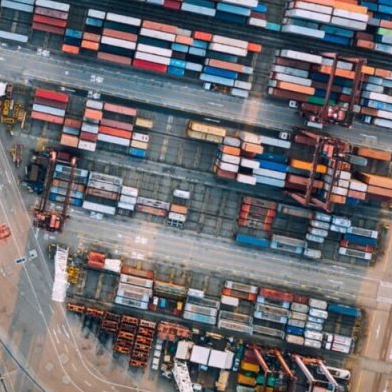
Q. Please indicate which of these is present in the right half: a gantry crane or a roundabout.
gantry crane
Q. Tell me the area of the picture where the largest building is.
bottom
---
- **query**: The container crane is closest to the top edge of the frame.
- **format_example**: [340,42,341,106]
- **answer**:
[300,53,361,131]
